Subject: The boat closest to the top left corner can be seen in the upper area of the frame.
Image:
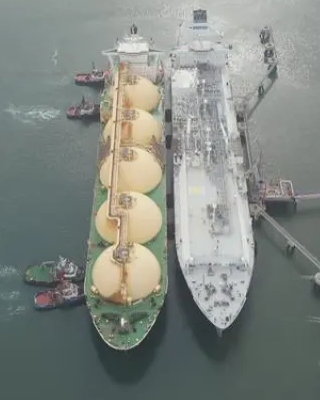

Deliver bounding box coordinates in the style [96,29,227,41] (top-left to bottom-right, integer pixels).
[73,64,105,84]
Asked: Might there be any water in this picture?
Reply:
Yes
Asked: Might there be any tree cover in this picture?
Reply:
No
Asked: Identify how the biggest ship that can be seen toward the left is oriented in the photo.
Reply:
from top to bottom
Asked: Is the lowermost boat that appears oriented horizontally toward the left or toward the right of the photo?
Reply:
left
